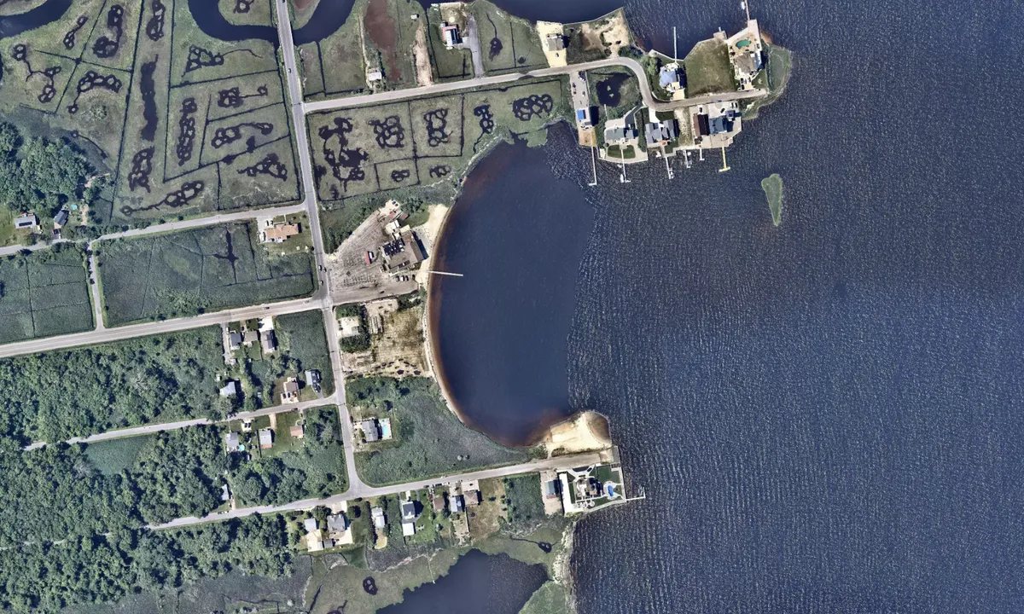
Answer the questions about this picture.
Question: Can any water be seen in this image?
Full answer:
Yes, the picture does contain water.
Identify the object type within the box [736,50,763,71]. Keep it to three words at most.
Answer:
house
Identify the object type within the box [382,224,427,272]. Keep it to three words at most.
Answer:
building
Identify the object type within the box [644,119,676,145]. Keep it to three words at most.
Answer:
house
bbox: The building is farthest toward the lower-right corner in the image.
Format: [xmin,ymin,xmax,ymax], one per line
[577,476,602,498]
